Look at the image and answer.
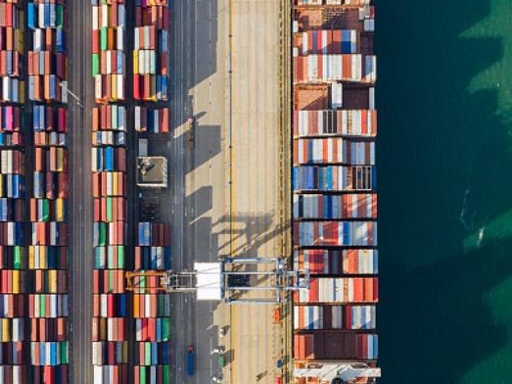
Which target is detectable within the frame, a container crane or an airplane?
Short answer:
container crane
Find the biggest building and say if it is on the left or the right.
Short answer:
left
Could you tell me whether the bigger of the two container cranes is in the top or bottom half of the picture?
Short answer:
bottom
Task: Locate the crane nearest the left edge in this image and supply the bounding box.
[123,268,179,292]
